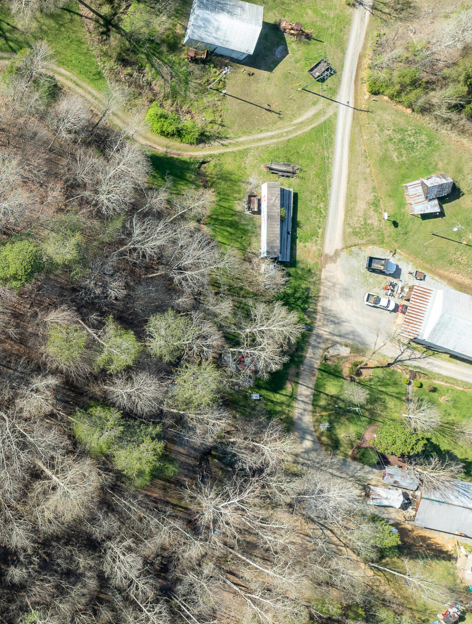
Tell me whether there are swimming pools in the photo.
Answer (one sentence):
No, there's no swimming pool here.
